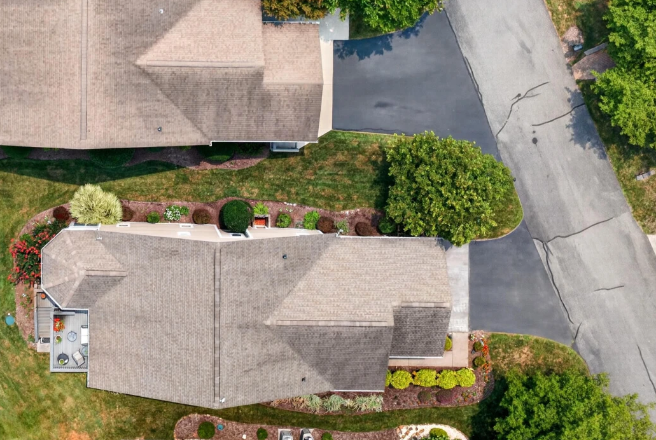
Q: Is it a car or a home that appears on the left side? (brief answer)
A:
home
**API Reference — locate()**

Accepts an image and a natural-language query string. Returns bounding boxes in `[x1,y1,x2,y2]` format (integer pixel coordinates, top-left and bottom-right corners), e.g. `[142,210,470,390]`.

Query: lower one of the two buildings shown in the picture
[39,223,452,409]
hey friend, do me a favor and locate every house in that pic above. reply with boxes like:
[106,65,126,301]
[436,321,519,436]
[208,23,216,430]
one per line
[39,223,452,409]
[0,0,324,157]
